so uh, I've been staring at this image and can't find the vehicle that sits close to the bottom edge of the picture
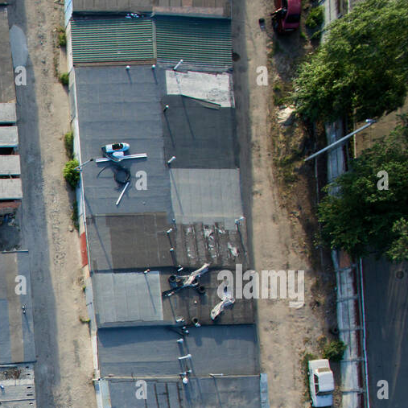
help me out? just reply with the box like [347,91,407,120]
[304,357,336,408]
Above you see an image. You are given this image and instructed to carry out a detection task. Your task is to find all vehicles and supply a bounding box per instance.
[304,357,336,408]
[267,0,304,33]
